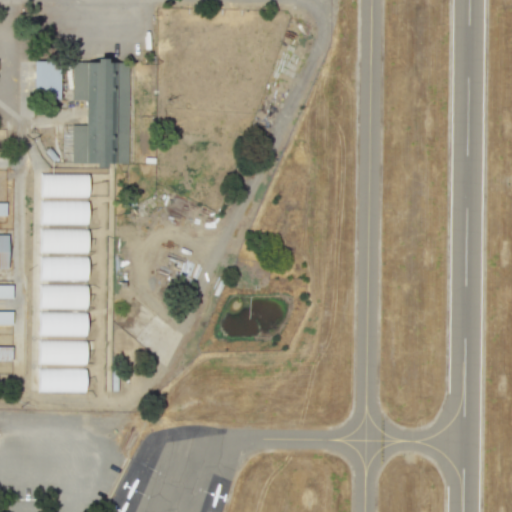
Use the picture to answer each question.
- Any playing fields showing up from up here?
No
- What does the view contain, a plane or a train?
plane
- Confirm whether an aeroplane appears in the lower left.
Yes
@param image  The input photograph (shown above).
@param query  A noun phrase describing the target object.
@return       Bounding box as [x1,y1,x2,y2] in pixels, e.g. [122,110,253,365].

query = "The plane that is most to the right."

[212,484,229,508]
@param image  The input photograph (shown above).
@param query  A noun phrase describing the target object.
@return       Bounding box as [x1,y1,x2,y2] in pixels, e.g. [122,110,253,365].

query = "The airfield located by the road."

[110,0,490,512]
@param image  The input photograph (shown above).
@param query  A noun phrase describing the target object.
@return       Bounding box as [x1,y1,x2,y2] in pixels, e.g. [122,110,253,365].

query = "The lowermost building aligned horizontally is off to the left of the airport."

[38,369,93,394]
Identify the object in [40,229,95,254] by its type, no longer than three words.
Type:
barn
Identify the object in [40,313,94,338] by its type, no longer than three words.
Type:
barn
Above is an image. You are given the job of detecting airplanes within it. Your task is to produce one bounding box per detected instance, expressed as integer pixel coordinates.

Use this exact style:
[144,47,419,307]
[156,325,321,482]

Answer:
[112,501,130,512]
[121,479,140,502]
[212,484,229,508]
